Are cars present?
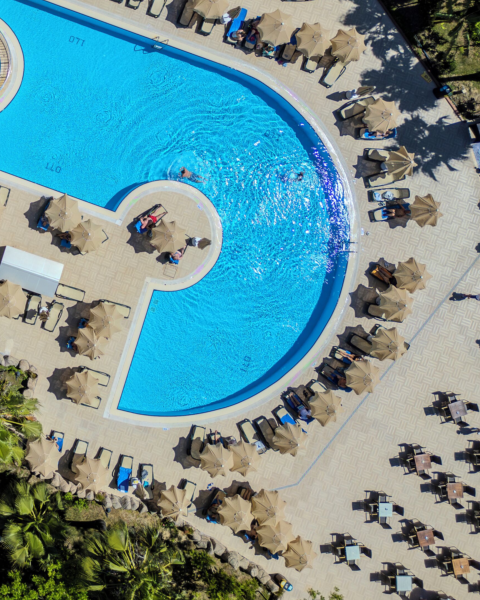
No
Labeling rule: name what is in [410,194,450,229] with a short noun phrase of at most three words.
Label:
umbrella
